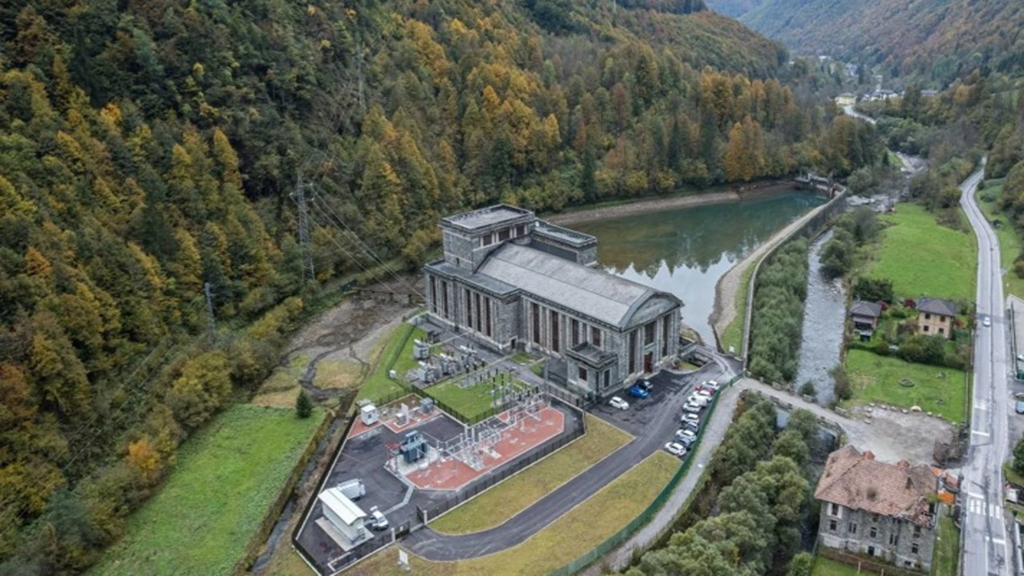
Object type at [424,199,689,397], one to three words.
building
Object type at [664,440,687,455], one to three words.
car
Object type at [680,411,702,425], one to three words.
car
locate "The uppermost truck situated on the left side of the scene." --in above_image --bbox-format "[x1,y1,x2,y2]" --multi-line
[335,474,372,497]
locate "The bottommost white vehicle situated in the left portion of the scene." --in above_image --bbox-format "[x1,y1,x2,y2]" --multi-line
[367,504,388,530]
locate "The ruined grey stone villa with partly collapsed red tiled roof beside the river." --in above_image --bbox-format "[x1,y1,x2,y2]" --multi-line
[816,441,951,575]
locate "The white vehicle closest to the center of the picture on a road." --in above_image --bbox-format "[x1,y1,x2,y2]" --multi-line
[608,395,629,408]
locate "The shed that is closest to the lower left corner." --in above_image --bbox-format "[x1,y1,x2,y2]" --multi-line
[311,489,379,550]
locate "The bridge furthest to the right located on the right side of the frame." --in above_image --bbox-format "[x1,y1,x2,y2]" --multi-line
[751,382,844,452]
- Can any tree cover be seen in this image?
Yes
